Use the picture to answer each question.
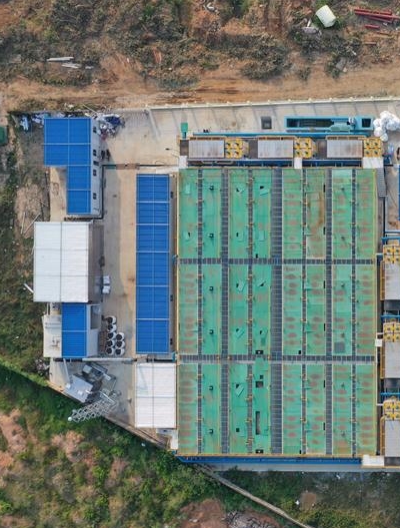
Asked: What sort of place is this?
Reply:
industrial area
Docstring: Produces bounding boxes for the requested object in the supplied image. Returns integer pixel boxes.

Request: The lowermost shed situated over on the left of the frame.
[135,363,179,429]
